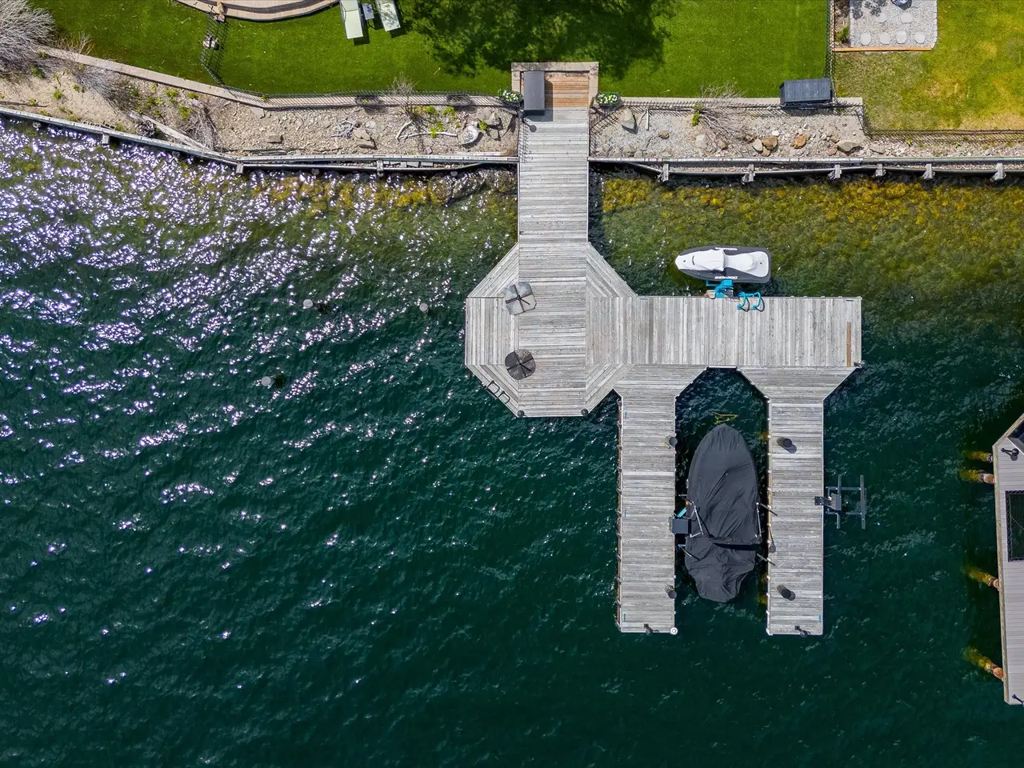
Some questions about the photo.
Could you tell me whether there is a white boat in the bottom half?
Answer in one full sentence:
No, I can find no white boat in the bottom half.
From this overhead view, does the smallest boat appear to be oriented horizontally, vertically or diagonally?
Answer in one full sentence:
In this picture, the smallest boat is oriented horizontally.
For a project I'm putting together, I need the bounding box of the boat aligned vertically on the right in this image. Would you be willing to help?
[684,423,763,602]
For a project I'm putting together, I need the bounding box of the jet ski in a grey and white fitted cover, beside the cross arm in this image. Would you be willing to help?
[673,246,771,284]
